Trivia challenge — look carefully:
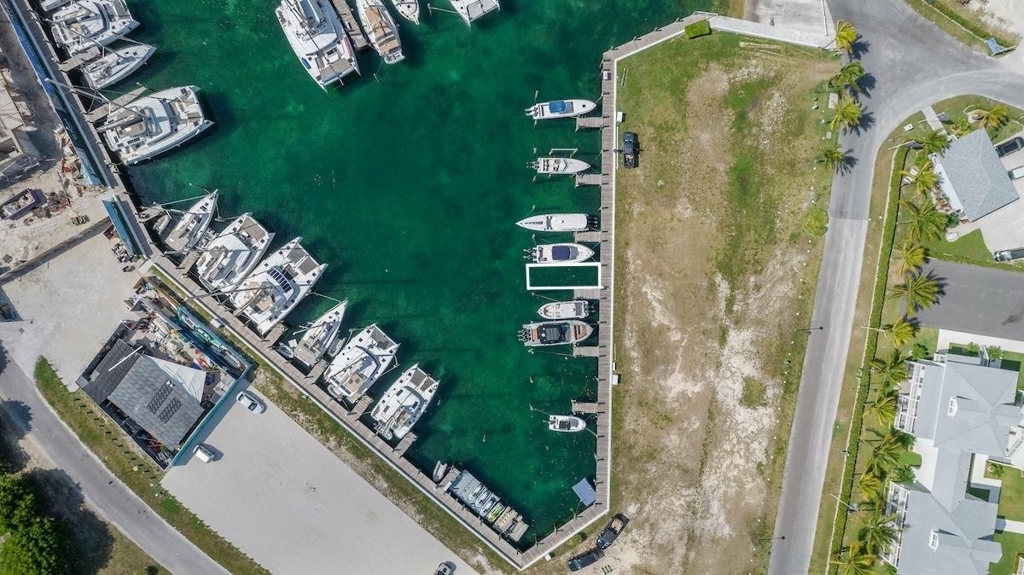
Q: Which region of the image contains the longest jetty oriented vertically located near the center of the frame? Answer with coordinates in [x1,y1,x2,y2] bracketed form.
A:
[595,53,614,508]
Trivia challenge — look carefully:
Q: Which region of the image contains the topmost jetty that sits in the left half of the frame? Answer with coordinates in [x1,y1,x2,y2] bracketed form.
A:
[332,0,368,49]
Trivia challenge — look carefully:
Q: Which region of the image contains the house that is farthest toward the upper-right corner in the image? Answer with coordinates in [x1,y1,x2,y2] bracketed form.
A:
[924,128,1020,222]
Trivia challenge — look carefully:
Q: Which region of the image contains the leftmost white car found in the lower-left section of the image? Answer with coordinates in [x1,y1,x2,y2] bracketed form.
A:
[191,444,216,465]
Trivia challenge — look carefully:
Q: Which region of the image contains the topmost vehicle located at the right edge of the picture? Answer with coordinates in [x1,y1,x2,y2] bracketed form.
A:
[995,134,1024,157]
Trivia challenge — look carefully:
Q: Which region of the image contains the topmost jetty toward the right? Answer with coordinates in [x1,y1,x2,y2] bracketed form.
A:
[604,10,716,60]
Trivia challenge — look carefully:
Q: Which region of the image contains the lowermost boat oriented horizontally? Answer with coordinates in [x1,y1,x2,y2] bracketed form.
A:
[534,408,597,437]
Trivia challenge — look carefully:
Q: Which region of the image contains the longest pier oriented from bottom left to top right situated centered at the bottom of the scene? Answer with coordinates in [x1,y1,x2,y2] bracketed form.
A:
[521,502,610,568]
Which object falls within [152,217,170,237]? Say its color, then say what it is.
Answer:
gray boat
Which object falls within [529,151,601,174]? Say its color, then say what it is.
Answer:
white boat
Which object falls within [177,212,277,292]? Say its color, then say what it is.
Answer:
white boat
